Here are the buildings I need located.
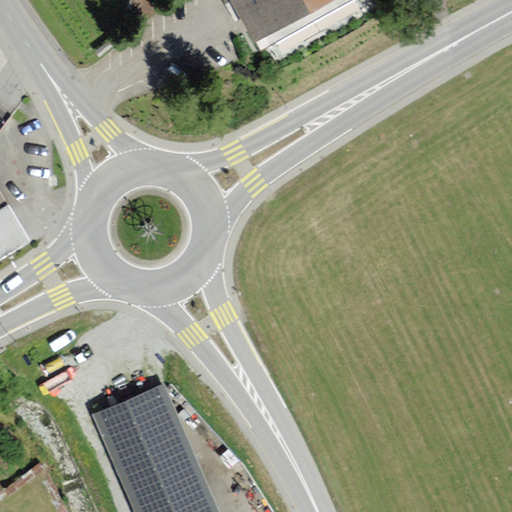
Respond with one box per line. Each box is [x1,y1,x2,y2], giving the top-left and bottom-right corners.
[92,40,115,60]
[0,464,64,512]
[92,384,220,512]
[226,0,370,61]
[0,204,30,260]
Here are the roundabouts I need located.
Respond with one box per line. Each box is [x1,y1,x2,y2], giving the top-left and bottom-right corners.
[70,147,230,308]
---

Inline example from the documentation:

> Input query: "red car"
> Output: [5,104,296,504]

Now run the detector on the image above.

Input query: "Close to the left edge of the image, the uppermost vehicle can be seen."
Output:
[20,120,42,134]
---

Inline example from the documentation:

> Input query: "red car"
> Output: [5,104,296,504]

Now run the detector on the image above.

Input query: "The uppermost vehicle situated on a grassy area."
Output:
[49,331,76,352]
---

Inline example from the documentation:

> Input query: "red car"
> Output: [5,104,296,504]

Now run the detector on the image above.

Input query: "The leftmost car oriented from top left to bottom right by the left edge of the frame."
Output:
[5,181,25,200]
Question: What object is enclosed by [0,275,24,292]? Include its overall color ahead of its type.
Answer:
white vehicle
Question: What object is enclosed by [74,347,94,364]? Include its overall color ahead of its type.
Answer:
white work vehicle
